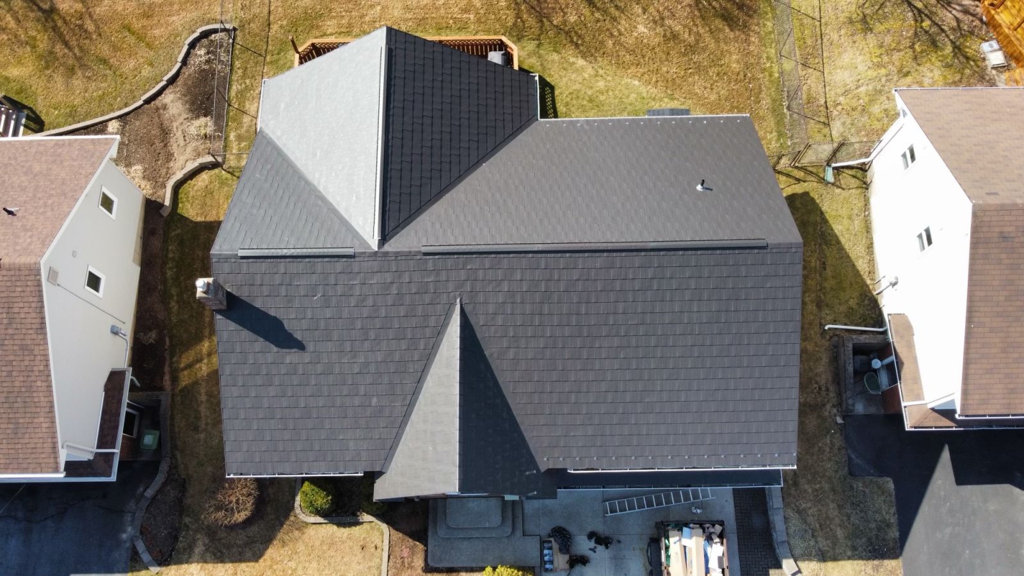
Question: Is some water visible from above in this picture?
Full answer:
No, the scene doesn't show any water.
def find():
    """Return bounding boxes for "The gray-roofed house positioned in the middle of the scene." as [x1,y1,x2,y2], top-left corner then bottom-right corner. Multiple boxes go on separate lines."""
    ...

[193,25,803,505]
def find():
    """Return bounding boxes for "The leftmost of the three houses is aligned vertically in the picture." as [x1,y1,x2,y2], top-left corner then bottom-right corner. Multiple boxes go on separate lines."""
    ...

[0,133,165,485]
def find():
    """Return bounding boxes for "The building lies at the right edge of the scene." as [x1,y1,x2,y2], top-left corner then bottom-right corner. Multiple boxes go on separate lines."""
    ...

[823,84,1024,431]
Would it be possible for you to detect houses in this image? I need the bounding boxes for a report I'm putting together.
[193,25,803,505]
[0,133,165,485]
[823,84,1024,431]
